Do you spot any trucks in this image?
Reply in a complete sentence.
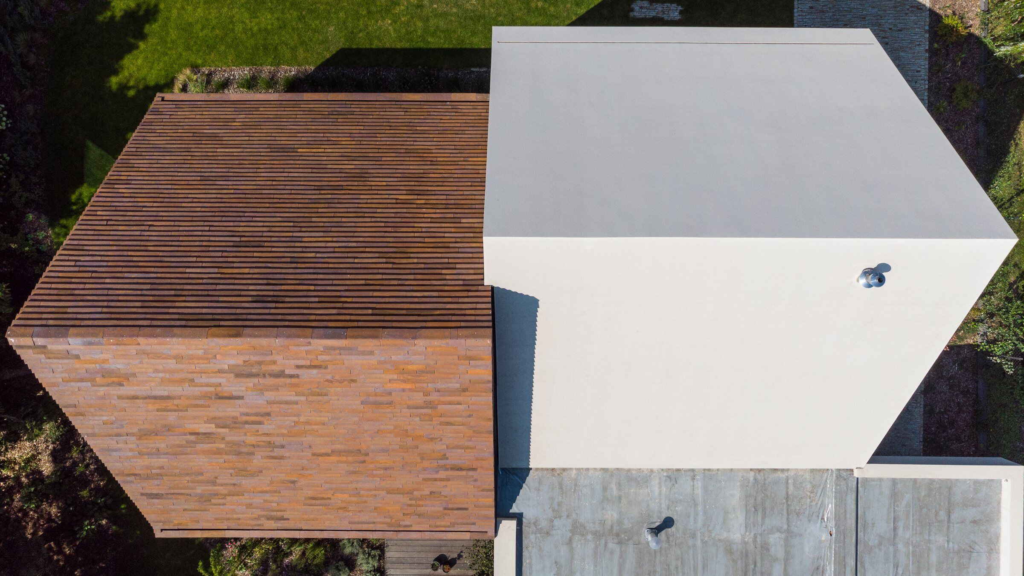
No, I can see no truck in this picture.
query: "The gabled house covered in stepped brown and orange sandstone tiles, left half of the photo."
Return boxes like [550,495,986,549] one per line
[7,92,499,538]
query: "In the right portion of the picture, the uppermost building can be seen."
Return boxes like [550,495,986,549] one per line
[483,27,1018,469]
